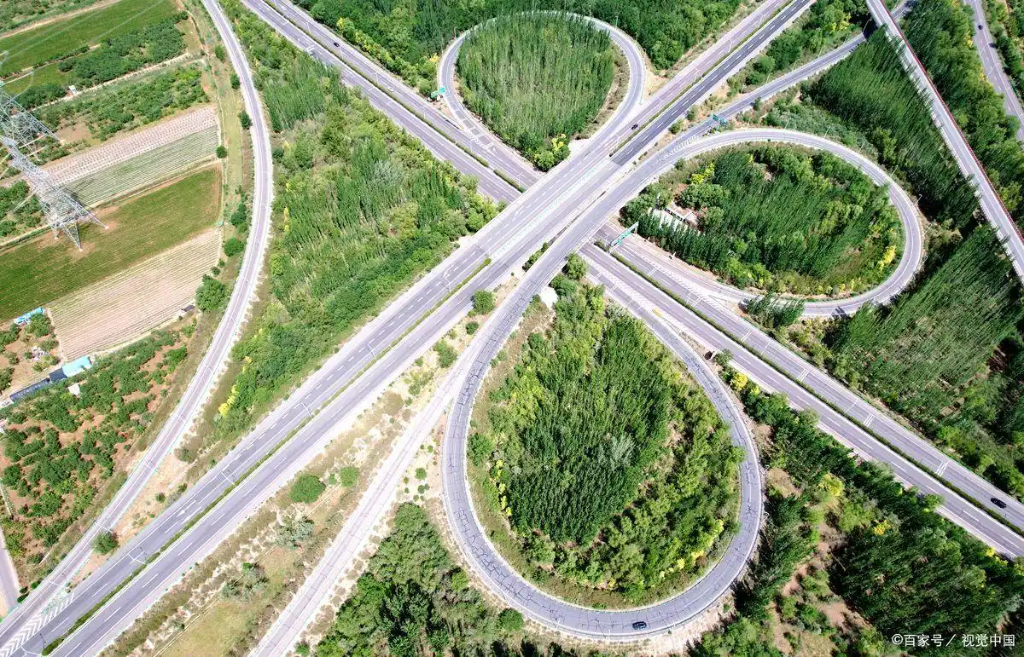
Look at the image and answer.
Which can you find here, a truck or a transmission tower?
transmission tower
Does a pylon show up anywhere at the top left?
Yes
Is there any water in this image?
No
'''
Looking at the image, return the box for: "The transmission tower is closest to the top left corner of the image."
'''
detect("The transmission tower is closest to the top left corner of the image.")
[0,74,64,160]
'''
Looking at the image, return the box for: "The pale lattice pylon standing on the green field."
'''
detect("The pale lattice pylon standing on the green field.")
[1,145,107,251]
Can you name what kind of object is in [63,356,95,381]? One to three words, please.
building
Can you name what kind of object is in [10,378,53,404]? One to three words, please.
shed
